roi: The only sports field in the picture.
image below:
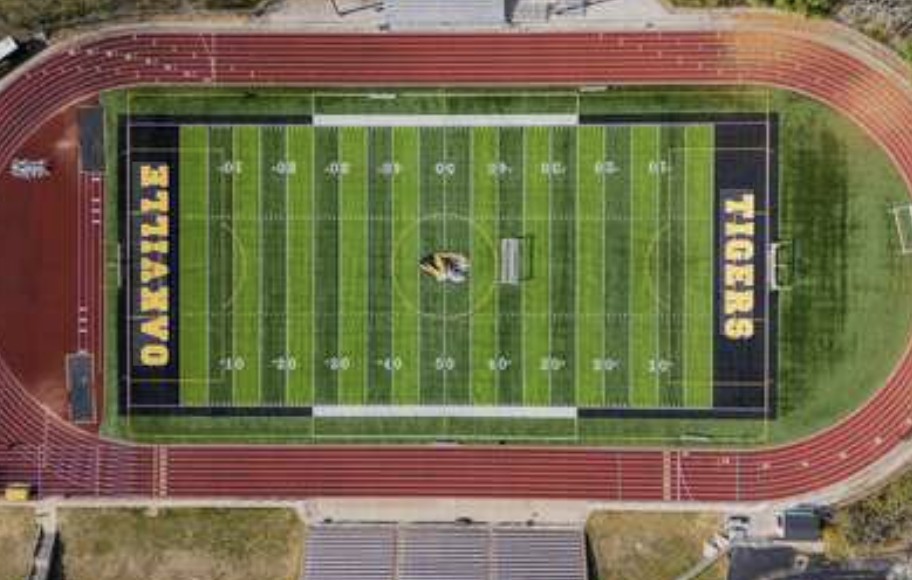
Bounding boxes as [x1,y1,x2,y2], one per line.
[104,84,781,448]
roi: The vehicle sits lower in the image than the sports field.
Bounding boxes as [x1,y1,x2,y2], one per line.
[733,515,748,547]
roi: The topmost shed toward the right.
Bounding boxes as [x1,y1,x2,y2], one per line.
[778,506,819,540]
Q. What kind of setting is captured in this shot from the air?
sports ground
